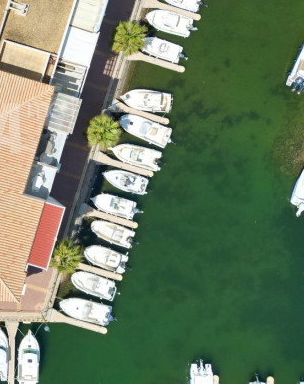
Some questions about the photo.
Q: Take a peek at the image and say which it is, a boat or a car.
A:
boat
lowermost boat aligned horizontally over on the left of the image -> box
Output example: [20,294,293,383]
[60,297,116,326]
